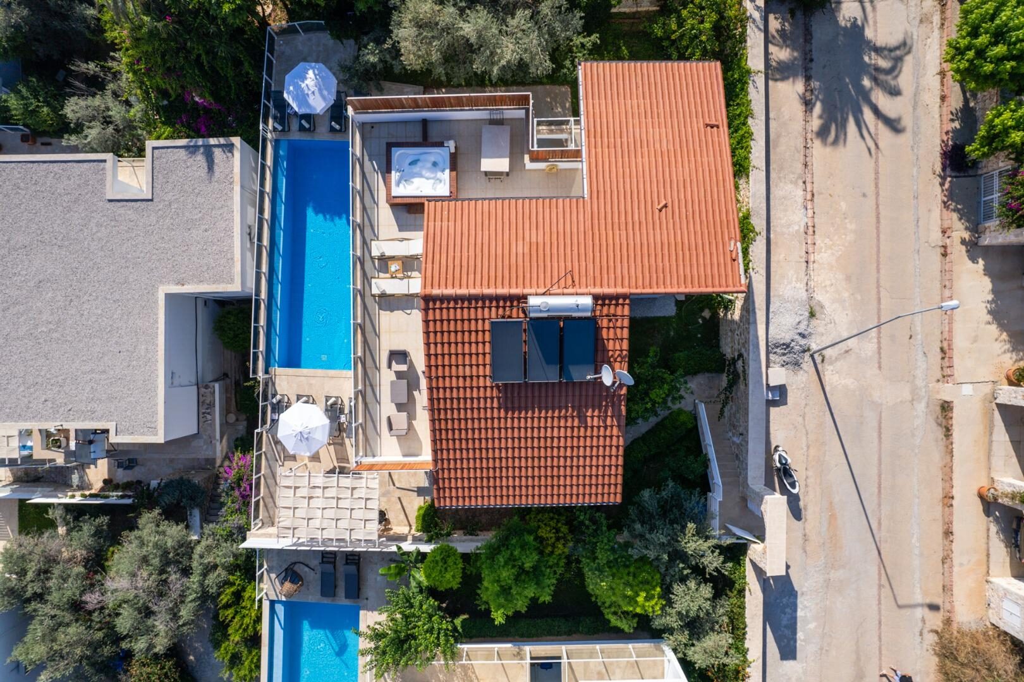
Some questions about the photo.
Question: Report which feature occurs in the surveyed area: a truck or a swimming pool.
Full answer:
The one in the frame is a swimming pool.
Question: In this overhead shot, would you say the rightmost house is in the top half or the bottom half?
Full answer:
The bottom half of the photo is where the rightmost house is.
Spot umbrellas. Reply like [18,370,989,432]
[286,64,339,117]
[278,401,333,456]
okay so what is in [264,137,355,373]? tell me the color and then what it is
blue swimming pool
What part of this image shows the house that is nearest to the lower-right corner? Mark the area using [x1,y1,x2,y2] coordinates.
[990,578,1024,642]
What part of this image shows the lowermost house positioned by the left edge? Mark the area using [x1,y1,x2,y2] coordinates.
[0,137,269,442]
